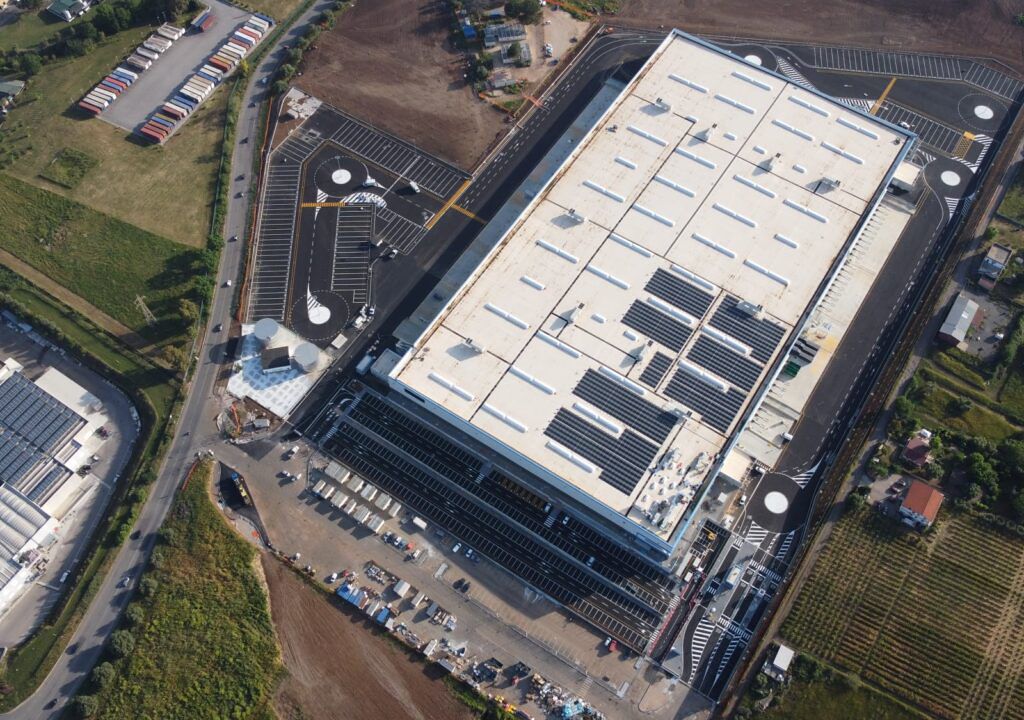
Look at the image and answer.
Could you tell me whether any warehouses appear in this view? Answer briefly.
Yes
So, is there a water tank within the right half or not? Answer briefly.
No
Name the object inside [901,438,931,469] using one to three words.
house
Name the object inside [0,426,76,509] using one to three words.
building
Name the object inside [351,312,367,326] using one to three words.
vehicle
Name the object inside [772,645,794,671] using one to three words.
shed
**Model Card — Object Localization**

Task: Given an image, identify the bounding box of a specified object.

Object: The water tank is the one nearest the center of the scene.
[293,343,323,375]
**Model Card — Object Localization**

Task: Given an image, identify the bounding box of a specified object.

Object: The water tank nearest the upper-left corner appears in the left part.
[253,317,284,348]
